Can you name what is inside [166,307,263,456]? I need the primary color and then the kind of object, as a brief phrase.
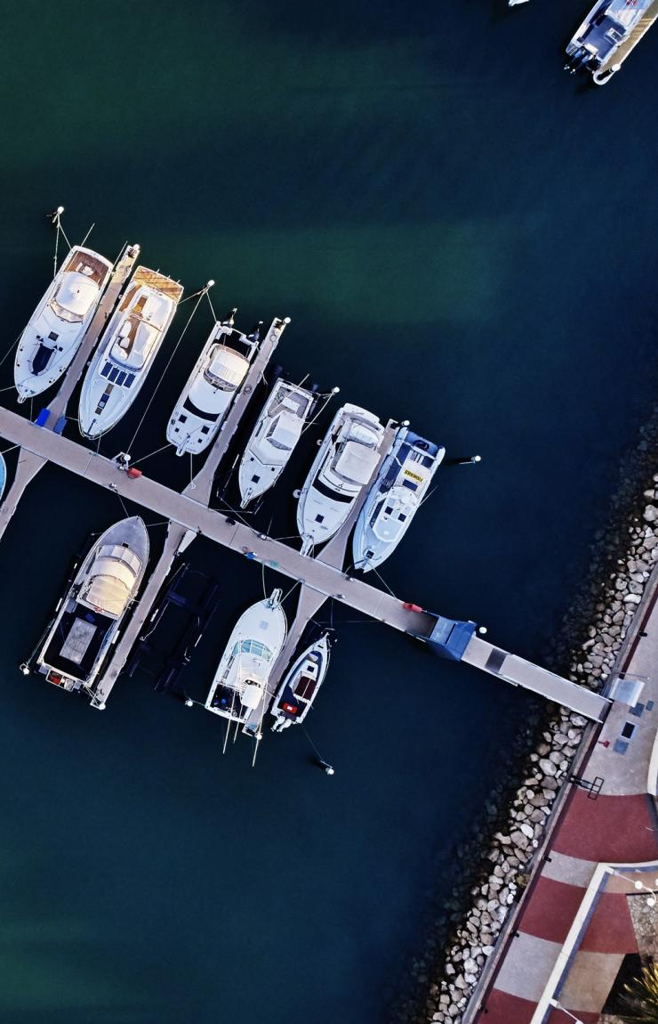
white boat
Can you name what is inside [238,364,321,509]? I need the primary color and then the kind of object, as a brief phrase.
white boat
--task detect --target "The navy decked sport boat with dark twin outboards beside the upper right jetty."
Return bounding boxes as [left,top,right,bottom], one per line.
[562,0,655,73]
